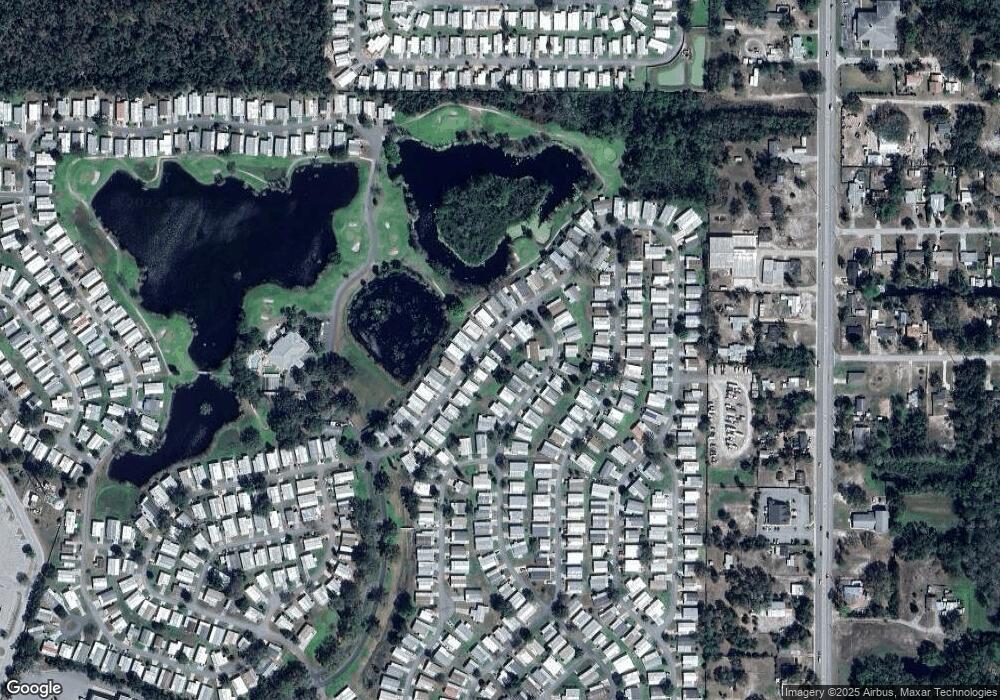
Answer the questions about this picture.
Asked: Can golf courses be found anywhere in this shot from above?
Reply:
Yes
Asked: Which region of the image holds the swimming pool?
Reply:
left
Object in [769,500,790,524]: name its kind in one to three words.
building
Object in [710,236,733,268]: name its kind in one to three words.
building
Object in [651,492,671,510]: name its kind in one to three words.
house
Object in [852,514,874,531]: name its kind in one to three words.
house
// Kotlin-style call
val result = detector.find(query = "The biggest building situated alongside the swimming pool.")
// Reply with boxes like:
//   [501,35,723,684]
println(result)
[268,330,312,375]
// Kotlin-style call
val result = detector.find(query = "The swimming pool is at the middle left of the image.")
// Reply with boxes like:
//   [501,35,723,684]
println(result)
[247,350,268,371]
